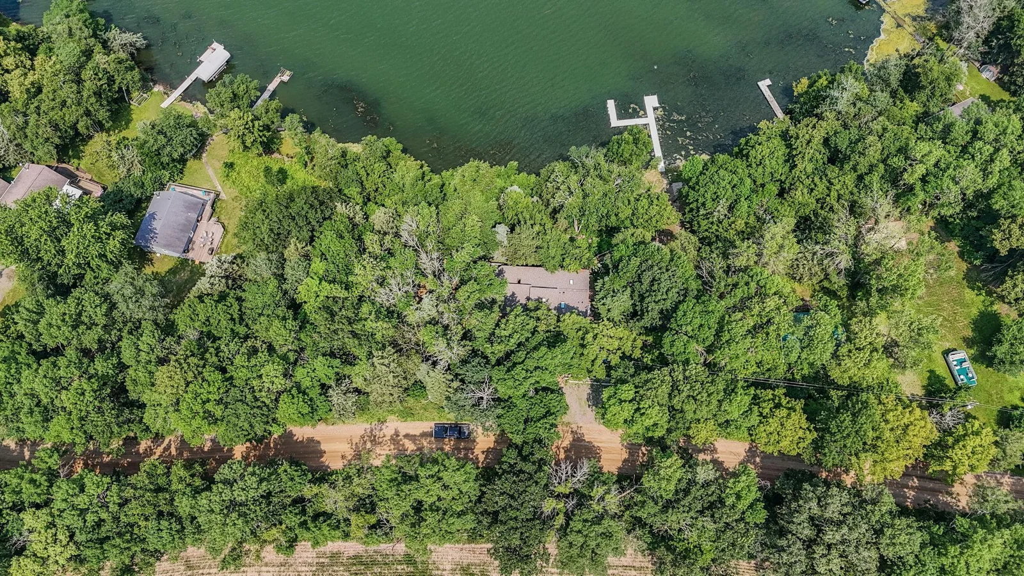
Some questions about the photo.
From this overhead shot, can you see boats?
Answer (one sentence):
Yes, there's a boat down there.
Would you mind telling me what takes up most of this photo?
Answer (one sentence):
Most of the picture is covered by trees.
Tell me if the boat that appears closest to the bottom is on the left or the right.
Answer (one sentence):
The boat that appears closest to the bottom sits on the right side.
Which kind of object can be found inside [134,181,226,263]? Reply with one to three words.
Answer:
house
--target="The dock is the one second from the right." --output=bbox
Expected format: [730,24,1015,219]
[757,78,788,126]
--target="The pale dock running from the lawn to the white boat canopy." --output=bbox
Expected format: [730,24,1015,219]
[161,36,225,108]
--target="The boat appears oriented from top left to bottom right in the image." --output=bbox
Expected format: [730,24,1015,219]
[943,347,980,393]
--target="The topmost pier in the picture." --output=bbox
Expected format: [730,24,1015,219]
[877,0,926,48]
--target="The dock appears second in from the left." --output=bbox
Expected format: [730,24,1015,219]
[255,67,294,107]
